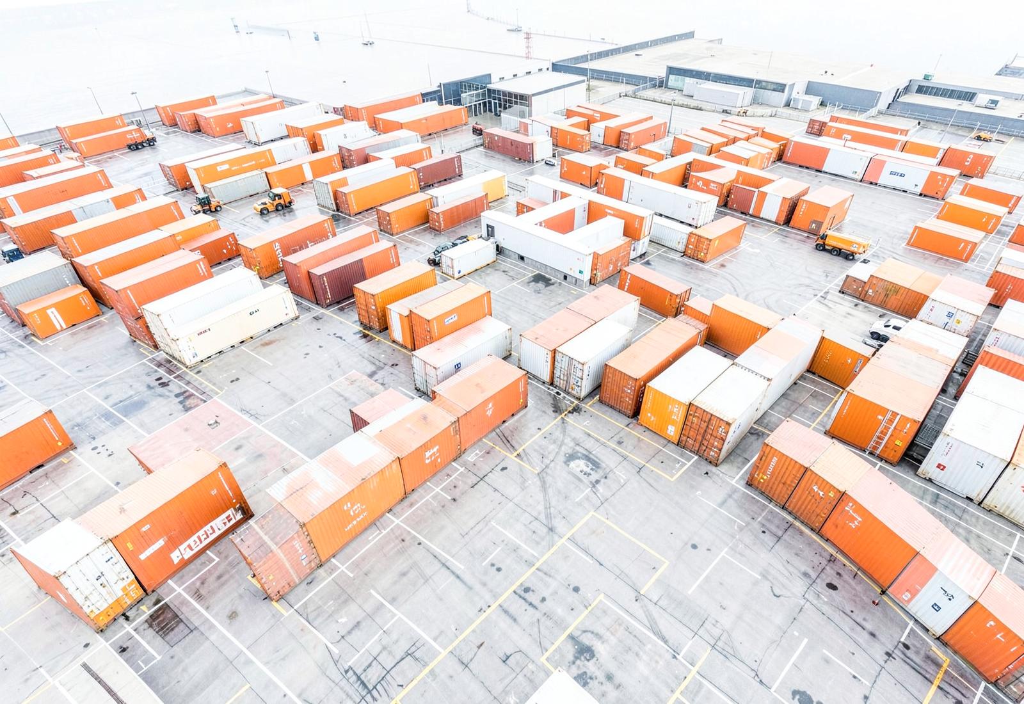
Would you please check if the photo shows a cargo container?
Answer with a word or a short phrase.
Yes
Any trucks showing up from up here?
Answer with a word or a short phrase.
Yes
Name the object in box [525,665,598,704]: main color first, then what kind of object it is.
white shipping container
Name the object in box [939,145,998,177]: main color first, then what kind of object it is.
red shipping container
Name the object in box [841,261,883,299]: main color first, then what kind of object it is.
white shipping container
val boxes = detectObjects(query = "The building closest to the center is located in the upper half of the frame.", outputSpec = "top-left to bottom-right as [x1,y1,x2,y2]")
[481,208,601,289]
